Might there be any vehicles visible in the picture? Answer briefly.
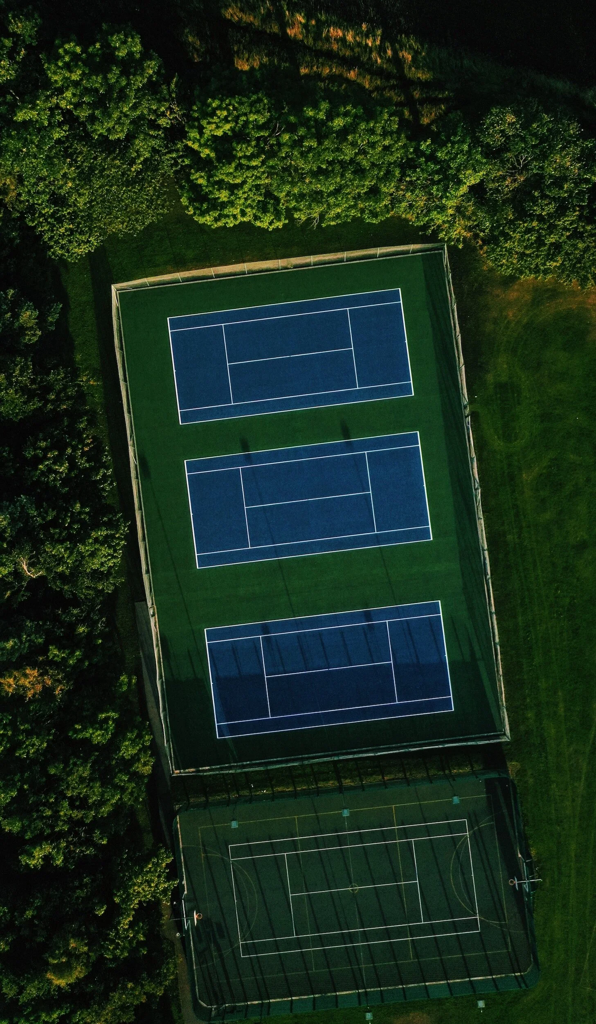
No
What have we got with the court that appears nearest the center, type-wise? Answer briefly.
tennis court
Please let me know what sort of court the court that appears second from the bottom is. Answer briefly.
tennis court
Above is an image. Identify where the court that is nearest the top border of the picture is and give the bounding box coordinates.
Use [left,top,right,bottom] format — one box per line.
[167,288,414,425]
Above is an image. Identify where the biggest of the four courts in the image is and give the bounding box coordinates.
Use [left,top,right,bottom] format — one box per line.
[176,766,534,1008]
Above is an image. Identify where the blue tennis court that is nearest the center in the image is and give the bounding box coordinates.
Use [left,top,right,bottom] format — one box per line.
[184,431,433,569]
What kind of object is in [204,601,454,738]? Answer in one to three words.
tennis court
